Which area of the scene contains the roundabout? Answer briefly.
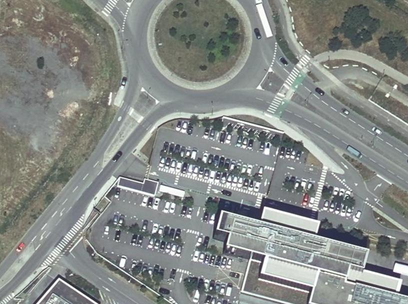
top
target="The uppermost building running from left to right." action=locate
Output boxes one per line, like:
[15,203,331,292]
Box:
[118,178,158,196]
